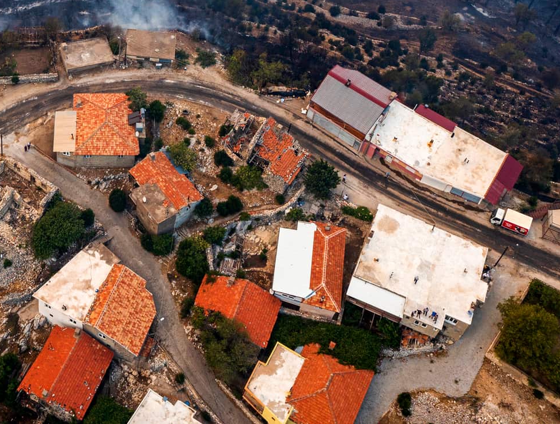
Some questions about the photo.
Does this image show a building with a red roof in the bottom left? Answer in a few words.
Yes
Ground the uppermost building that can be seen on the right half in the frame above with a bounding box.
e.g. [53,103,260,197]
[307,64,398,155]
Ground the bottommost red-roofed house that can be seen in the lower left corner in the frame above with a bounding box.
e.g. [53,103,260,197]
[17,325,113,424]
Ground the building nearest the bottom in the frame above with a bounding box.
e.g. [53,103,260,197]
[129,388,203,424]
